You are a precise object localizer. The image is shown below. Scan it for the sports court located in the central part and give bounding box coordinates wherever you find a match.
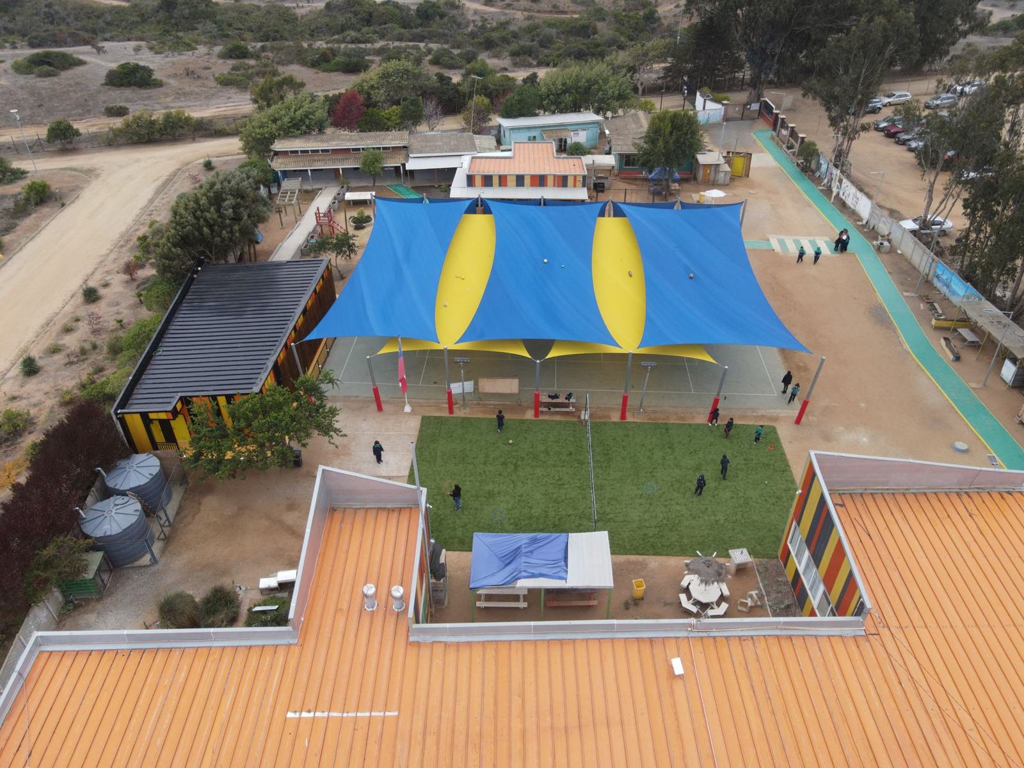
[314,335,801,410]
